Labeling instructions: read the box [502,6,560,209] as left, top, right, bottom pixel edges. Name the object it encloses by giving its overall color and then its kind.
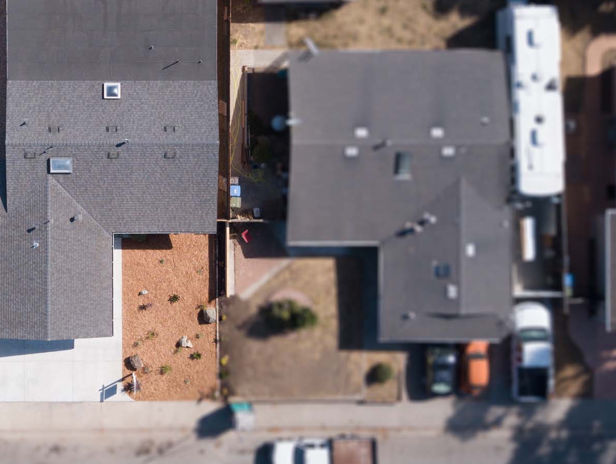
white trailer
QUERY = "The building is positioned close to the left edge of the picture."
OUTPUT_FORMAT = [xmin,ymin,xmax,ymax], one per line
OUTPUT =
[0,0,219,340]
